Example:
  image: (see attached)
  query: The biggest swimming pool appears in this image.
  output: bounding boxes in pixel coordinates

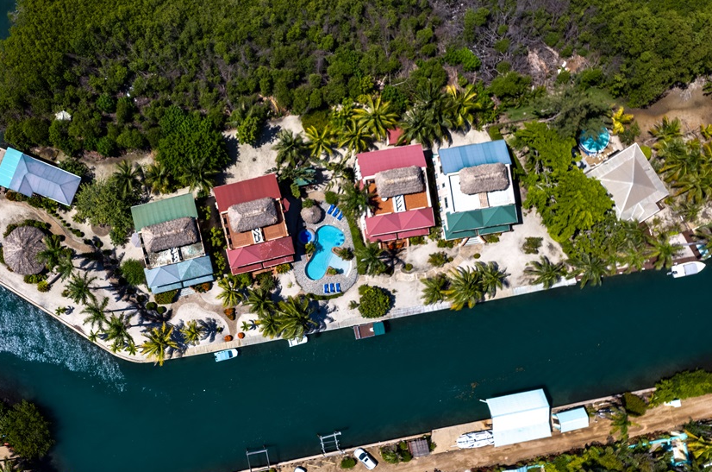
[293,201,358,296]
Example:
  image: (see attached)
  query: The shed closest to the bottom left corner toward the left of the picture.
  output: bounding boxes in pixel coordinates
[4,228,46,272]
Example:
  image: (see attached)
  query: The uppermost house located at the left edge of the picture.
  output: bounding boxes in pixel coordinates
[0,148,81,205]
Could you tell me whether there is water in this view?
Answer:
Yes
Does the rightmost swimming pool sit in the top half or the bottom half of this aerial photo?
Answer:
top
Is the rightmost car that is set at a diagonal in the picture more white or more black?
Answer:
white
